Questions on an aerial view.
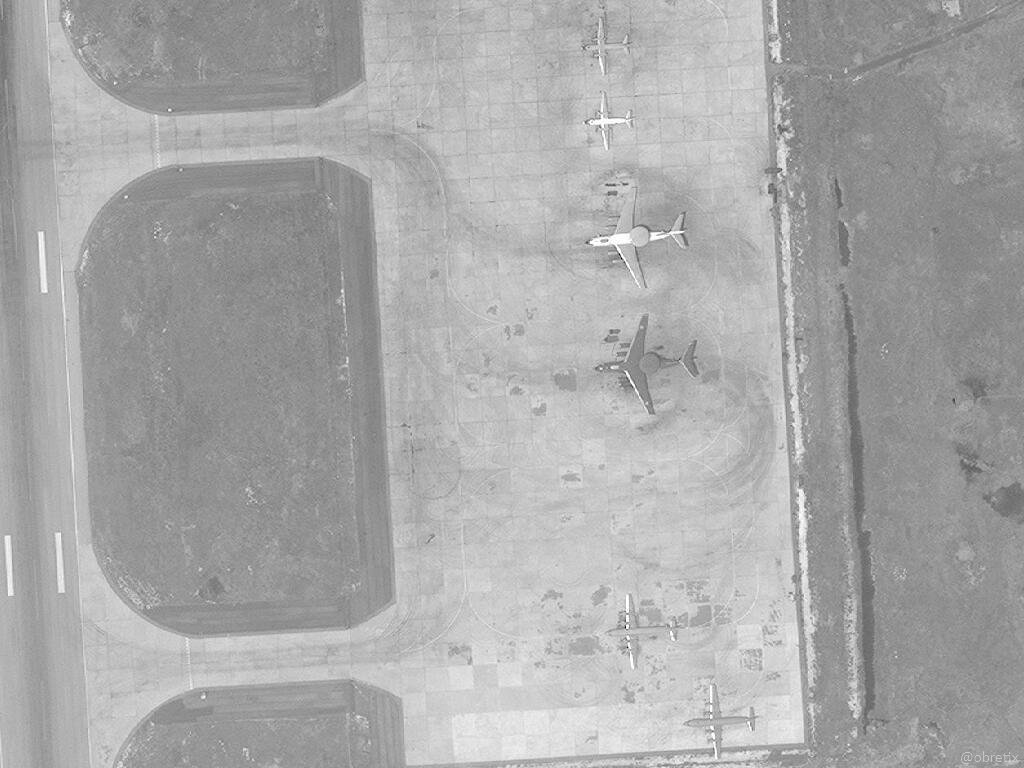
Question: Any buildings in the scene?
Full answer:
No, no building is visible in the view.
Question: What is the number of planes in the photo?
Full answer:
There are 6 planes in the image.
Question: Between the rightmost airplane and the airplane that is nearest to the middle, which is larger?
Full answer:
The airplane that is nearest to the middle takes up more space than the rightmost airplane does.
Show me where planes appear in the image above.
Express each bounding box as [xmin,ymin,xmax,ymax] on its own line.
[595,314,695,414]
[606,593,679,669]
[684,683,757,759]
[582,18,631,76]
[586,188,687,288]
[584,92,633,150]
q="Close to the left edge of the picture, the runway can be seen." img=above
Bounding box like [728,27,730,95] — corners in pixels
[0,0,92,768]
